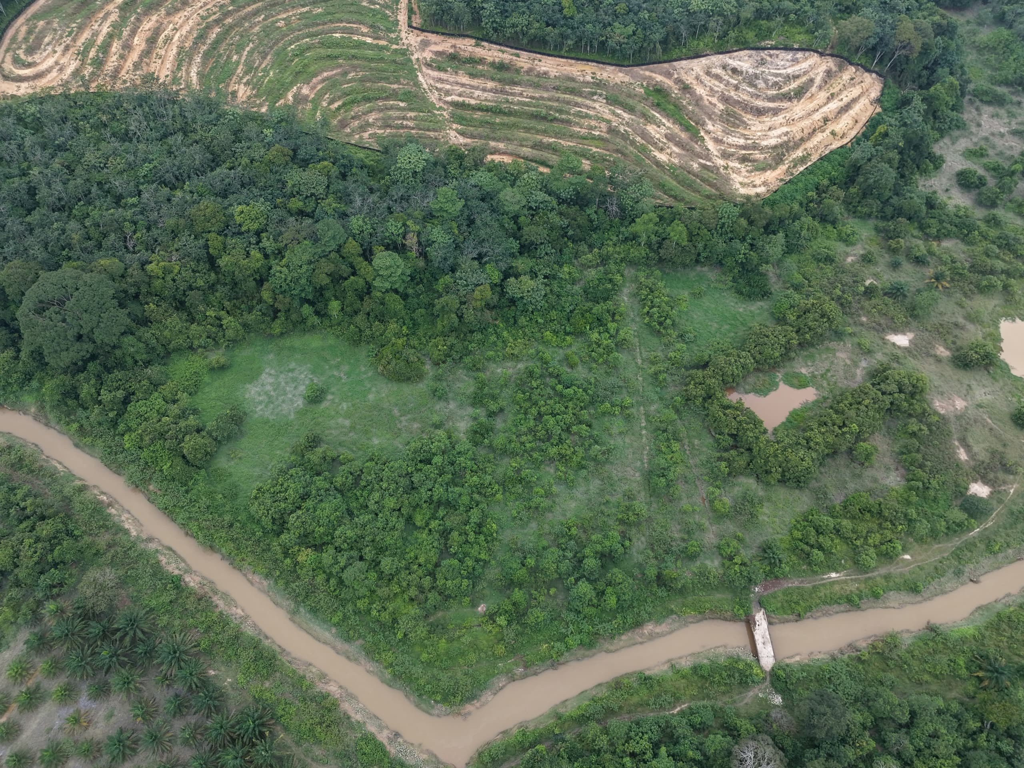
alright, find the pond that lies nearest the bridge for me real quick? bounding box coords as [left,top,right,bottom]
[726,383,816,435]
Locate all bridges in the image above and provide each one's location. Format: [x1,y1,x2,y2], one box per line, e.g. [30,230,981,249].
[747,608,775,668]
